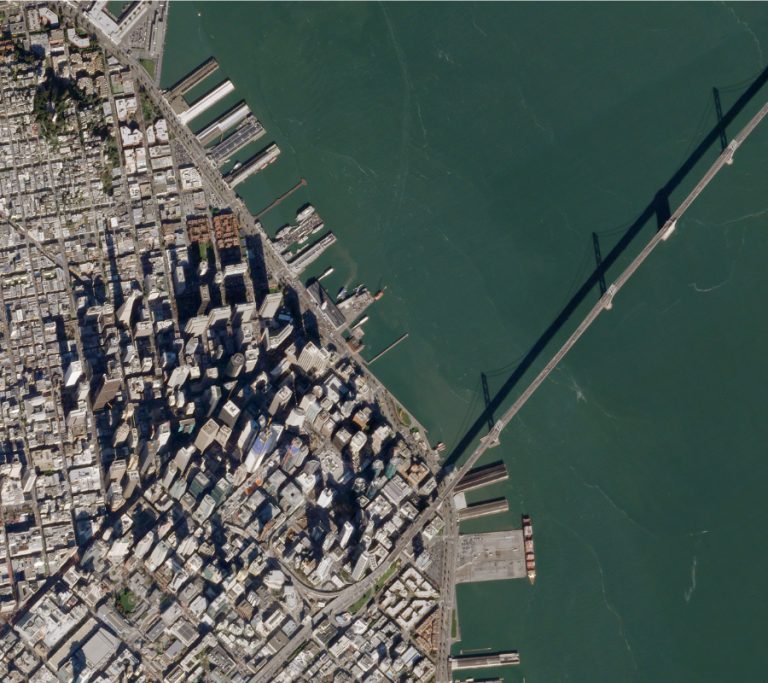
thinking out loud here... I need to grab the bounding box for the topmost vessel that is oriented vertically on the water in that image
[522,516,536,585]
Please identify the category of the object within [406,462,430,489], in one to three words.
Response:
building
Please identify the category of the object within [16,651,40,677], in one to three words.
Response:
building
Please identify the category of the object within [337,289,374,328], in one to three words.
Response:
pier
